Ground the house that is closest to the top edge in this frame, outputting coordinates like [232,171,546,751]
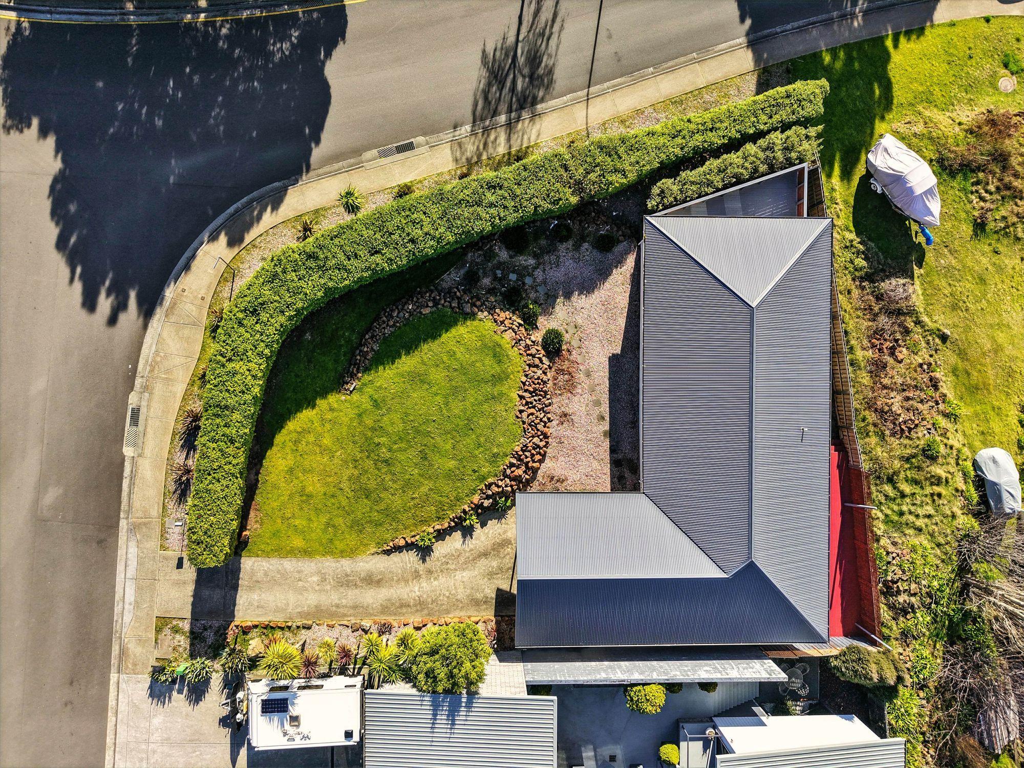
[515,214,836,648]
